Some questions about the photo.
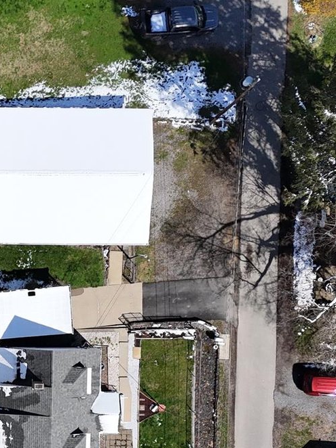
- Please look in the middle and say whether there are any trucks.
No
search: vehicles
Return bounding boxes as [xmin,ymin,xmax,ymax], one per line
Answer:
[138,1,219,38]
[299,373,336,399]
